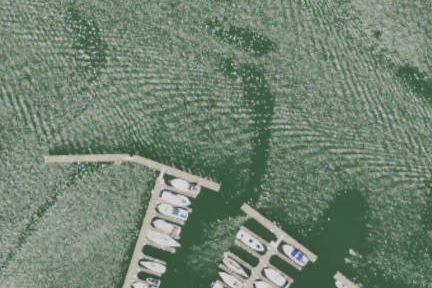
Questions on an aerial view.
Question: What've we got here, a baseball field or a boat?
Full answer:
Looking from above, you can make out a boat.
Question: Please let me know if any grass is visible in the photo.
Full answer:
No, the picture contains no grass.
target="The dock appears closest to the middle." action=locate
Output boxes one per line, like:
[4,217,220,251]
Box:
[128,156,220,192]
